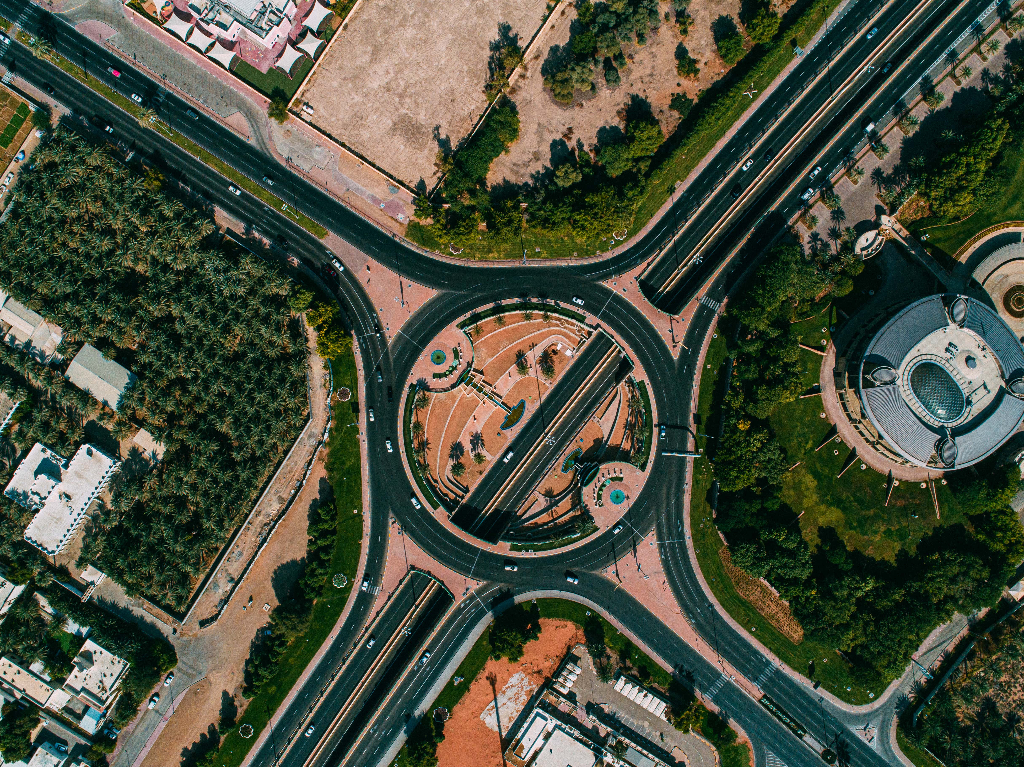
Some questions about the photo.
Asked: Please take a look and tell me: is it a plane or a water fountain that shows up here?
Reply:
water fountain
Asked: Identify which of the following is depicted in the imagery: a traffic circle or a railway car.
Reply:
traffic circle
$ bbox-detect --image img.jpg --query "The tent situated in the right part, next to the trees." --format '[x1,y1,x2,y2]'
[1003,578,1024,604]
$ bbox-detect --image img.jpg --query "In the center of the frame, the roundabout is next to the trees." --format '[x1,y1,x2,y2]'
[366,265,690,589]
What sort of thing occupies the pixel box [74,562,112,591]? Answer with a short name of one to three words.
building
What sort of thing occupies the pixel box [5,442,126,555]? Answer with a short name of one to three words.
house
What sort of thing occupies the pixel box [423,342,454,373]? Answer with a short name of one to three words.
fountain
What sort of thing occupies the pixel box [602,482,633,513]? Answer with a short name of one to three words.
fountain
